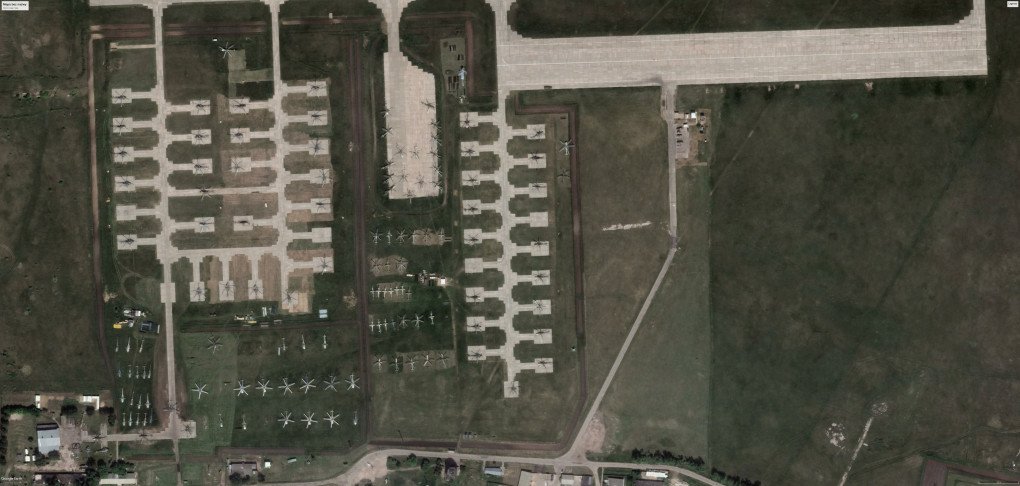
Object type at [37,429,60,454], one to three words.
hangar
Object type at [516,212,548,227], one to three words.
helipad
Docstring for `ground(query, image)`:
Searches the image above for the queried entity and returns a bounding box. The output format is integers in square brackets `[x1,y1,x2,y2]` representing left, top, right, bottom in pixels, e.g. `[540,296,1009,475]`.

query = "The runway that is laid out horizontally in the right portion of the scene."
[497,24,988,91]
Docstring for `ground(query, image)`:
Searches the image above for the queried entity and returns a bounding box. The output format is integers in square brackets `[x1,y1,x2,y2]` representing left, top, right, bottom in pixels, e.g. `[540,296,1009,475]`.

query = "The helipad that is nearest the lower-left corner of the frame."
[179,421,196,438]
